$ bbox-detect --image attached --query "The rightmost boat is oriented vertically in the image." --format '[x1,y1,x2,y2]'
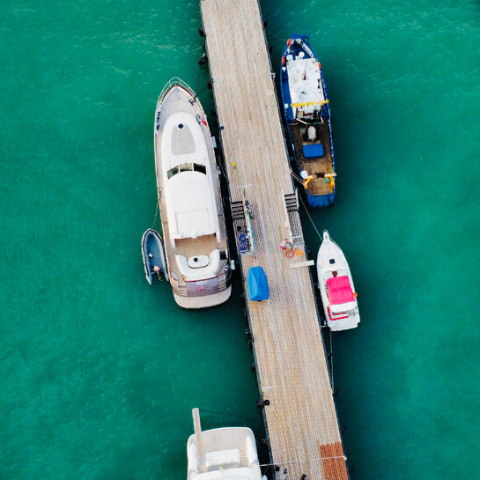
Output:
[318,228,360,331]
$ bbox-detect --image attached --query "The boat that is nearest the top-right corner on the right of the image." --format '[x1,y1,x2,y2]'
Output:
[280,29,335,210]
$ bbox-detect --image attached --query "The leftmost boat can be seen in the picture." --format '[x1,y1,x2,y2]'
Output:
[140,229,170,285]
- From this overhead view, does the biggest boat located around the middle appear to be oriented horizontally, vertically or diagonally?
vertically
